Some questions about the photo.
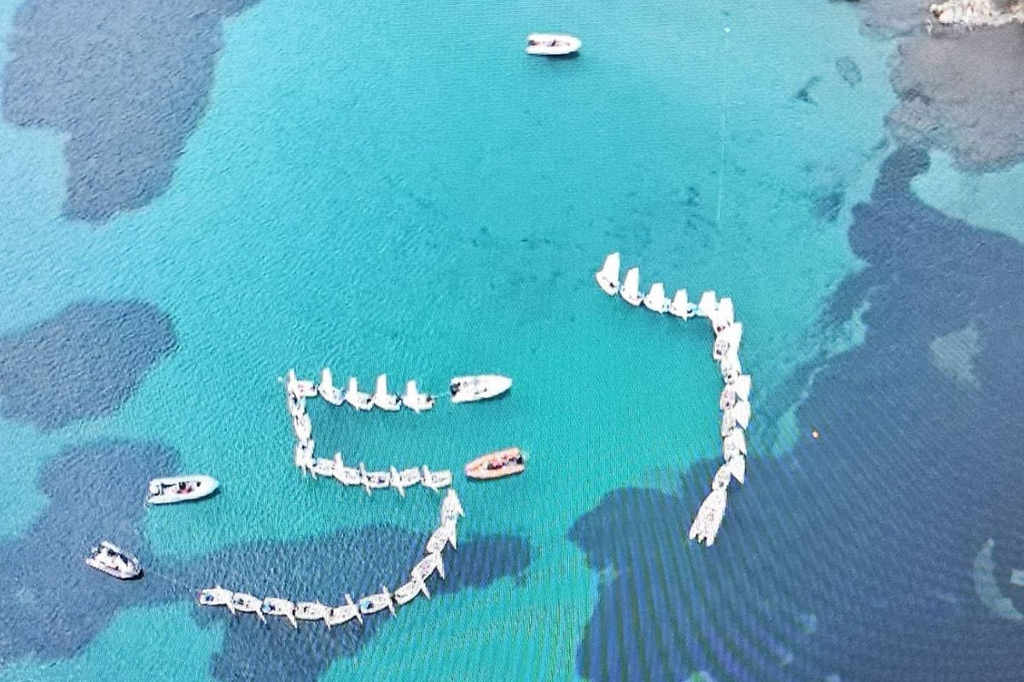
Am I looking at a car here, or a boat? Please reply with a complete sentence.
It is a boat that can be seen here.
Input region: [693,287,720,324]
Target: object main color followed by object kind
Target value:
white boat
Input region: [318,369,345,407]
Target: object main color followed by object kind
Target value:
white boat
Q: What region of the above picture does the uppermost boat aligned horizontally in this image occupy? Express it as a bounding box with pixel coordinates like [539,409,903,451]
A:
[524,35,581,51]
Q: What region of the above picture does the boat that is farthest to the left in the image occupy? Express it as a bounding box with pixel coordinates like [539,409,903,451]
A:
[84,544,141,573]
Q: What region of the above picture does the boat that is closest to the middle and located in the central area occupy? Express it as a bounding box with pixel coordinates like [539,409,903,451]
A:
[446,375,512,400]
